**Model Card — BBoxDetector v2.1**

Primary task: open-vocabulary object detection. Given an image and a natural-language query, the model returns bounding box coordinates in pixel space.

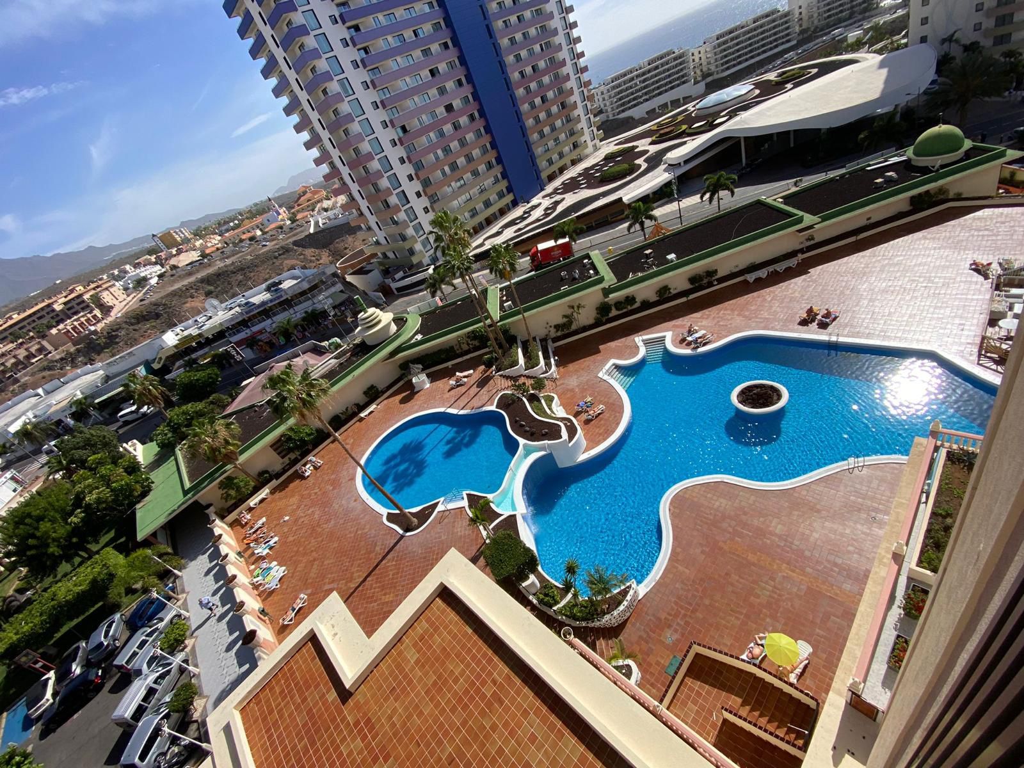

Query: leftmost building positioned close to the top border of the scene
[225,0,609,272]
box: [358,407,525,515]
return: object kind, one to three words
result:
swimming pool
